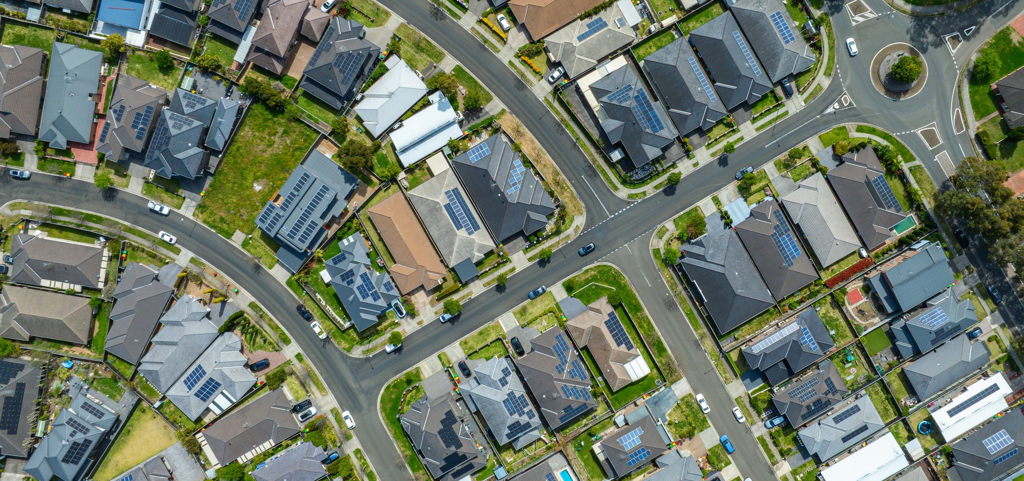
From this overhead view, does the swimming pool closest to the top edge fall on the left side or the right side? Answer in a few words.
right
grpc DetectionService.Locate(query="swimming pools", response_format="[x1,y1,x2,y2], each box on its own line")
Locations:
[559,468,573,481]
[893,214,918,236]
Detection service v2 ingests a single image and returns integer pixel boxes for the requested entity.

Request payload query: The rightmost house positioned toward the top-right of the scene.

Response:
[992,67,1024,123]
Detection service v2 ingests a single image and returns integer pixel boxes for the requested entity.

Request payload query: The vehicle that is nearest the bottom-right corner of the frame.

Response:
[965,325,986,339]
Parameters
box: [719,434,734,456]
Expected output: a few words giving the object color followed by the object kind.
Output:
blue vehicle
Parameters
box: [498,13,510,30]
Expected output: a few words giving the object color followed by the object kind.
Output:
white vehicle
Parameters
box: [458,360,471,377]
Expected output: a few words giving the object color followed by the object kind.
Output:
black vehicle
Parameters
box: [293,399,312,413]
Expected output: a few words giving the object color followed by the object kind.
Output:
black car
